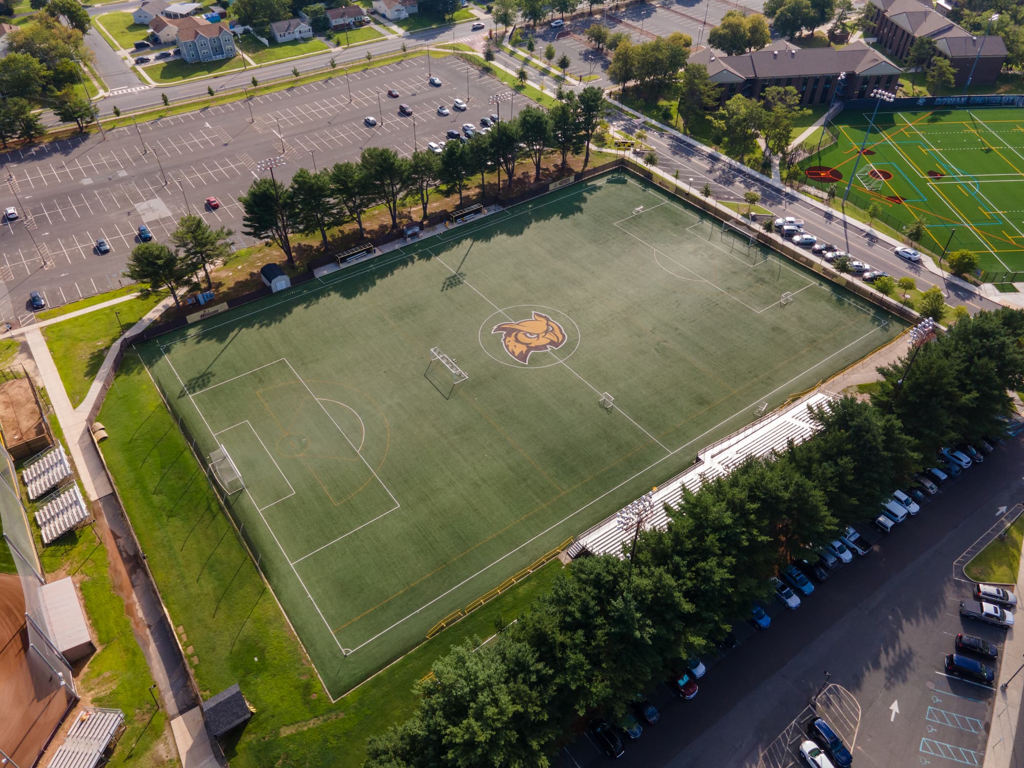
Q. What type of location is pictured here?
sports ground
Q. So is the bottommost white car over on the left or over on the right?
right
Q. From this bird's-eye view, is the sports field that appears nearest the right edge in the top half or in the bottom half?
top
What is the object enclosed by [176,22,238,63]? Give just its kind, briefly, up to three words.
house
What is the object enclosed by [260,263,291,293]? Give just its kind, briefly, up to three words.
shed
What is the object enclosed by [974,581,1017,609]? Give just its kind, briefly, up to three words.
car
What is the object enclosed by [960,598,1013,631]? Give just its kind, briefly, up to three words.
truck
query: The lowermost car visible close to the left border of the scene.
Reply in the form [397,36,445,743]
[29,292,45,309]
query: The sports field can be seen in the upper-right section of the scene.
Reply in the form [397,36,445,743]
[787,105,1024,283]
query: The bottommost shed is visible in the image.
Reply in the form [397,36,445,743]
[201,683,259,749]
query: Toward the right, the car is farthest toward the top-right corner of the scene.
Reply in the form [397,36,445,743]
[894,248,921,261]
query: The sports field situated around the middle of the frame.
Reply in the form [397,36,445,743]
[134,167,914,703]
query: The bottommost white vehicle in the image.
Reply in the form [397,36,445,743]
[797,738,832,768]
